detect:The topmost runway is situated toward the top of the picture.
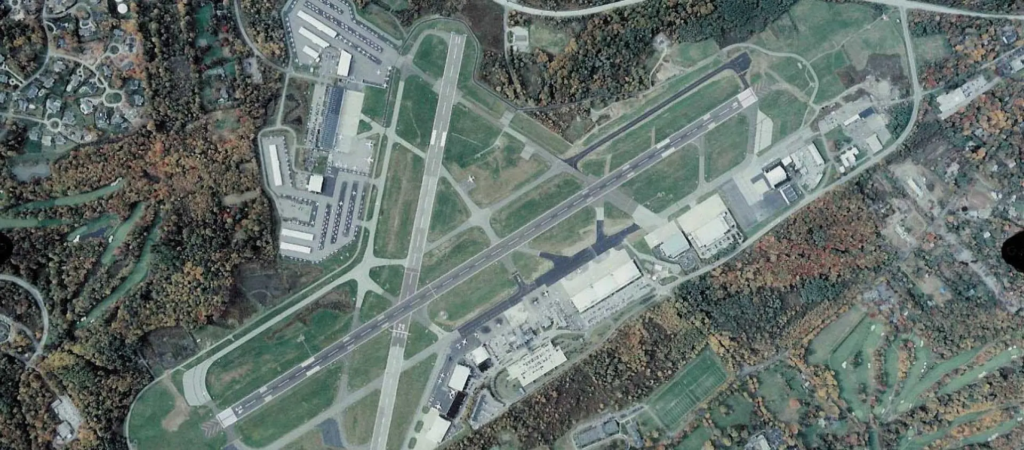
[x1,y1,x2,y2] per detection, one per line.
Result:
[425,33,466,175]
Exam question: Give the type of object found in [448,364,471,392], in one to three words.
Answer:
hangar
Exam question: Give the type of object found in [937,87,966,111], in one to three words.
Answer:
building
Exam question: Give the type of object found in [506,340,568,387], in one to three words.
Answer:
building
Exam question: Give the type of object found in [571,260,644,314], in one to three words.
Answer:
hangar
